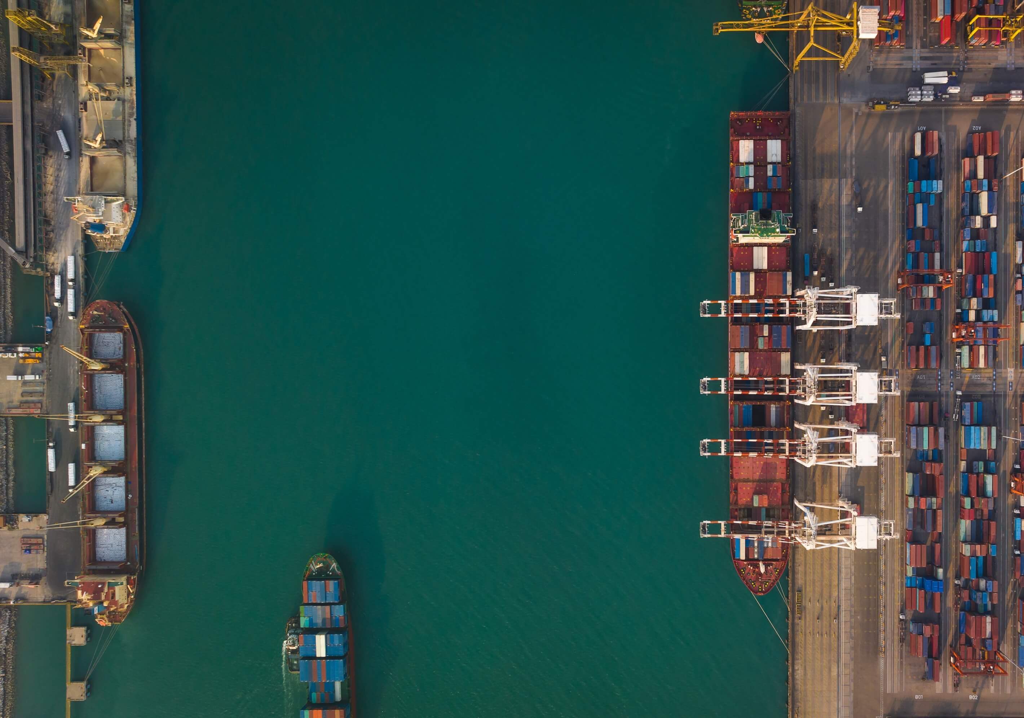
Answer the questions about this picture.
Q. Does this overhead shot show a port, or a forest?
port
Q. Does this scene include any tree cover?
No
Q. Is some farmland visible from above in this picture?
No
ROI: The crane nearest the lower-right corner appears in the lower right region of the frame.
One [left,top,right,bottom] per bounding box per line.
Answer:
[952,647,1012,679]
